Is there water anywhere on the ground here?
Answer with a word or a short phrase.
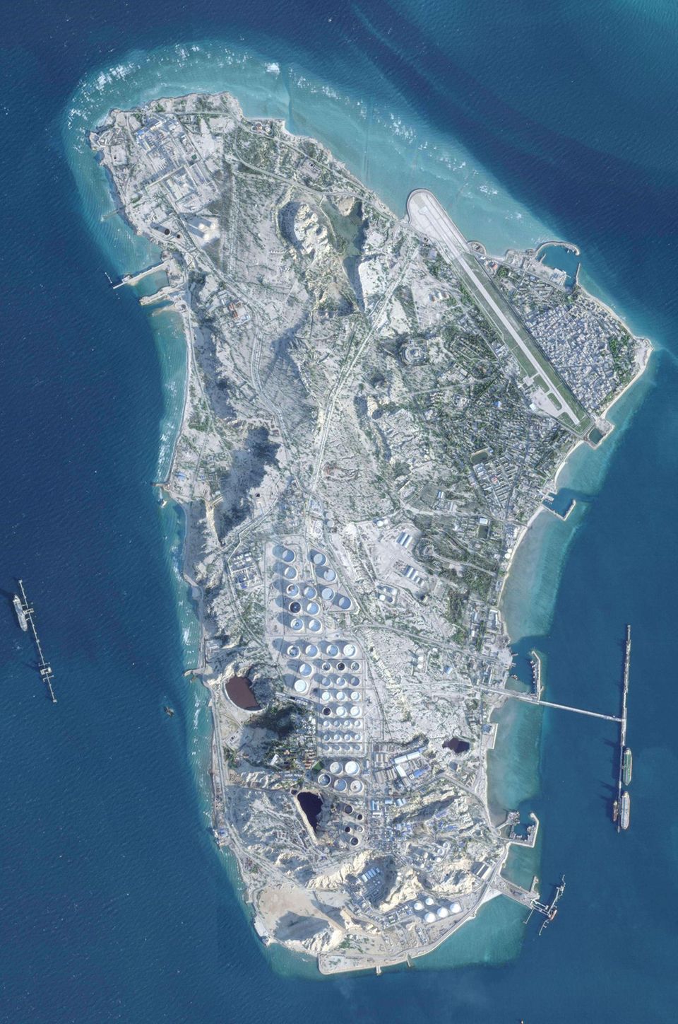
Yes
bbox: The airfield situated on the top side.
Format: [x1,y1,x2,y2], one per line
[408,190,591,432]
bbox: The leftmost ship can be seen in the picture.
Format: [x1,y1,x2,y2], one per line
[12,595,26,631]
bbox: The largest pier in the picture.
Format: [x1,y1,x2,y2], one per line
[618,625,631,833]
